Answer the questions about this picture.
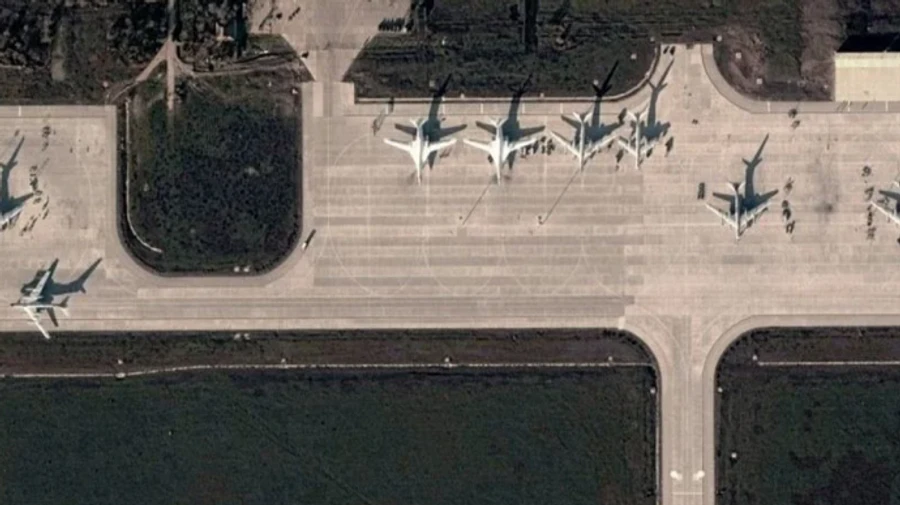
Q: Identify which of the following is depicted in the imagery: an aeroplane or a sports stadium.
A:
aeroplane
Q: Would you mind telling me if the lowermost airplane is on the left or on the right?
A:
left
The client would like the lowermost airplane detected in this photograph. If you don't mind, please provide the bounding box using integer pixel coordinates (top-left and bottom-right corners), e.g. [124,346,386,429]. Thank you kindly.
[11,271,70,337]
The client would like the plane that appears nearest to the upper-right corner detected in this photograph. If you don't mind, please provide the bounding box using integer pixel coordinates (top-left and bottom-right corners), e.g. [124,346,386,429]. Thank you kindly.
[873,201,900,227]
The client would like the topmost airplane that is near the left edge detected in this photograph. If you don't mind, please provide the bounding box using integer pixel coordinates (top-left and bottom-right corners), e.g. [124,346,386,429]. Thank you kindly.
[0,202,26,227]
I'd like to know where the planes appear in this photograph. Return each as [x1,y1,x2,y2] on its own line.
[0,202,26,227]
[11,271,70,337]
[618,108,658,169]
[873,201,900,227]
[383,119,455,186]
[706,183,769,240]
[462,118,535,184]
[549,112,615,174]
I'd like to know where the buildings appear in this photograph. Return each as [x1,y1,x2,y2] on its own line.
[836,52,900,100]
